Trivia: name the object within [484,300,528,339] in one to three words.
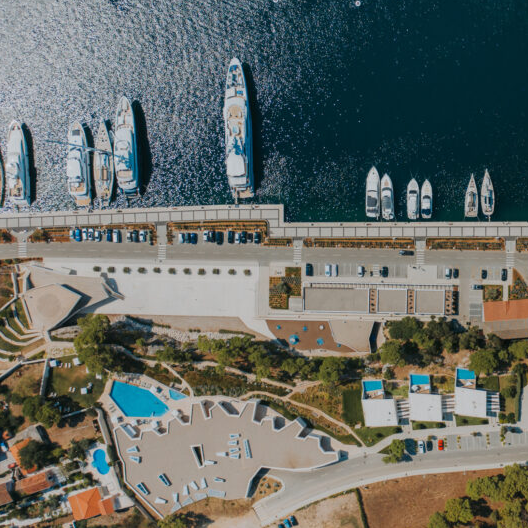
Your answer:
house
